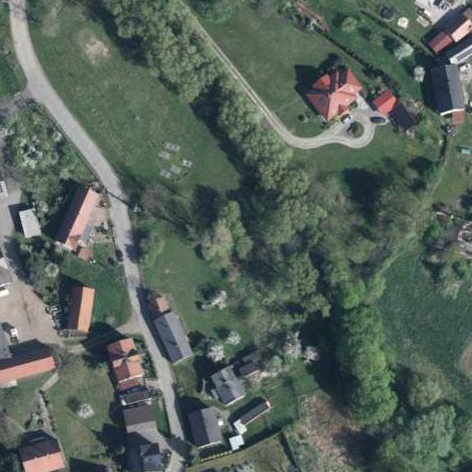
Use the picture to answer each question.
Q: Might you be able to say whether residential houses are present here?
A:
Yes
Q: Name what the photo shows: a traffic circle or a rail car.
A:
traffic circle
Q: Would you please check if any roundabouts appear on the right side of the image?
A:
Yes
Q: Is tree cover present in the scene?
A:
Yes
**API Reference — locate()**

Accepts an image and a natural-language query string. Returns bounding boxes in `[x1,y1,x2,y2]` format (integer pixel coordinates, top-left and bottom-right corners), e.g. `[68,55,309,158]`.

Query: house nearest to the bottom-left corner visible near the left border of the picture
[19,438,65,472]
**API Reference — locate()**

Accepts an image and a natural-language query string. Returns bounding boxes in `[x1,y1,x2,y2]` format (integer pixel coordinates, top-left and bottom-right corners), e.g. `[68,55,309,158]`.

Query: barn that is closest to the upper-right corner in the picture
[443,8,472,43]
